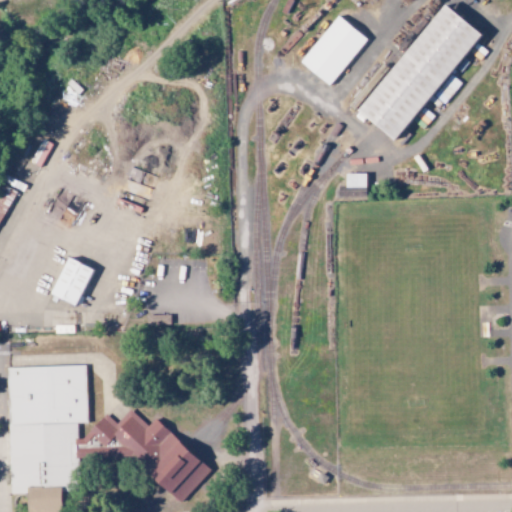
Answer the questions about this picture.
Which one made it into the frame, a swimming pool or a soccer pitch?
soccer pitch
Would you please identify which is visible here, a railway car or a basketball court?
railway car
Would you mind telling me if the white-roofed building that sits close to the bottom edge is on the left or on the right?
left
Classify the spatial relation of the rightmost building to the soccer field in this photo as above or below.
above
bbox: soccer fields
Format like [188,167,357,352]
[324,180,508,460]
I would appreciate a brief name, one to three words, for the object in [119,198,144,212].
vehicle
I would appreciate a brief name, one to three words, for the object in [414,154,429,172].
camper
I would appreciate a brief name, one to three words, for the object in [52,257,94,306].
building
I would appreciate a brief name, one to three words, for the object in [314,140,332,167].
rail car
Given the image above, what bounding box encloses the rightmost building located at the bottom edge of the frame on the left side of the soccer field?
[78,410,212,500]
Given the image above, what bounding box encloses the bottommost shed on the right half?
[338,173,368,197]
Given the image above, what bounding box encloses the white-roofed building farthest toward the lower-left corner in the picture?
[8,364,90,512]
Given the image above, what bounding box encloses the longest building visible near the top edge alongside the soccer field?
[358,4,482,140]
